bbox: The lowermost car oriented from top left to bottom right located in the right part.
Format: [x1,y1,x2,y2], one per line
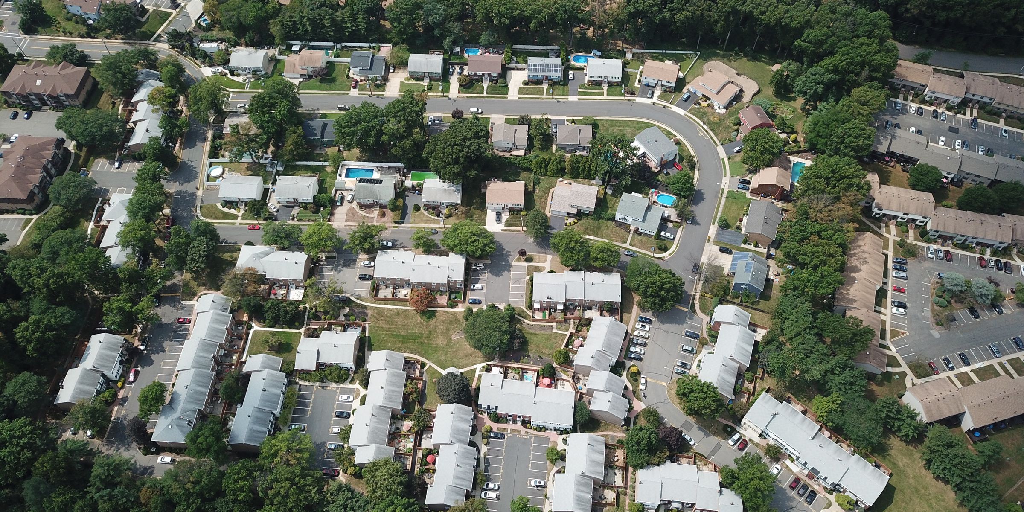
[682,431,697,447]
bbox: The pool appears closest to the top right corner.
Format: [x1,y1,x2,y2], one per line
[791,161,805,184]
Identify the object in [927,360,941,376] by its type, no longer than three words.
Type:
car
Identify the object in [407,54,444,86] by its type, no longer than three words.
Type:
house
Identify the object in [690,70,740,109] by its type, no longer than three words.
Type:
house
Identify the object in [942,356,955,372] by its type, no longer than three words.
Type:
vehicle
